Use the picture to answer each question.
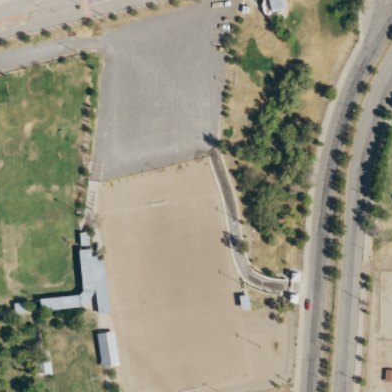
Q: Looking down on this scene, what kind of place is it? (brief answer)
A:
sports ground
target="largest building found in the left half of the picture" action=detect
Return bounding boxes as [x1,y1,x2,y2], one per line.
[40,248,111,313]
